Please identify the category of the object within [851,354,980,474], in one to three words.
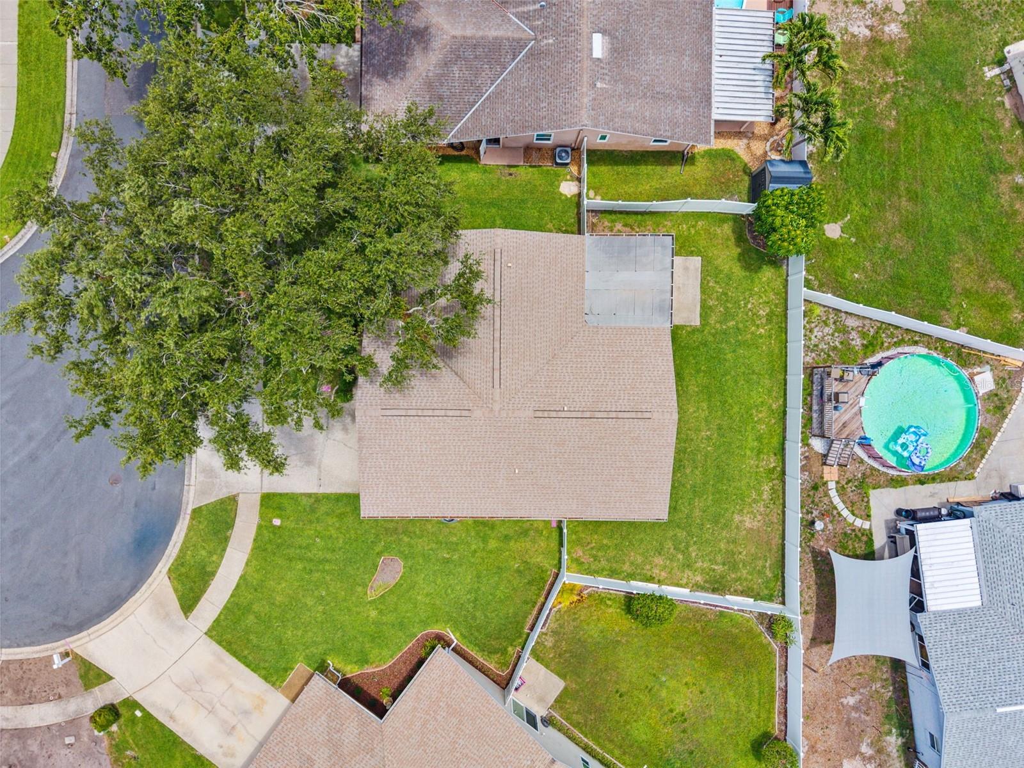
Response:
swimming pool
